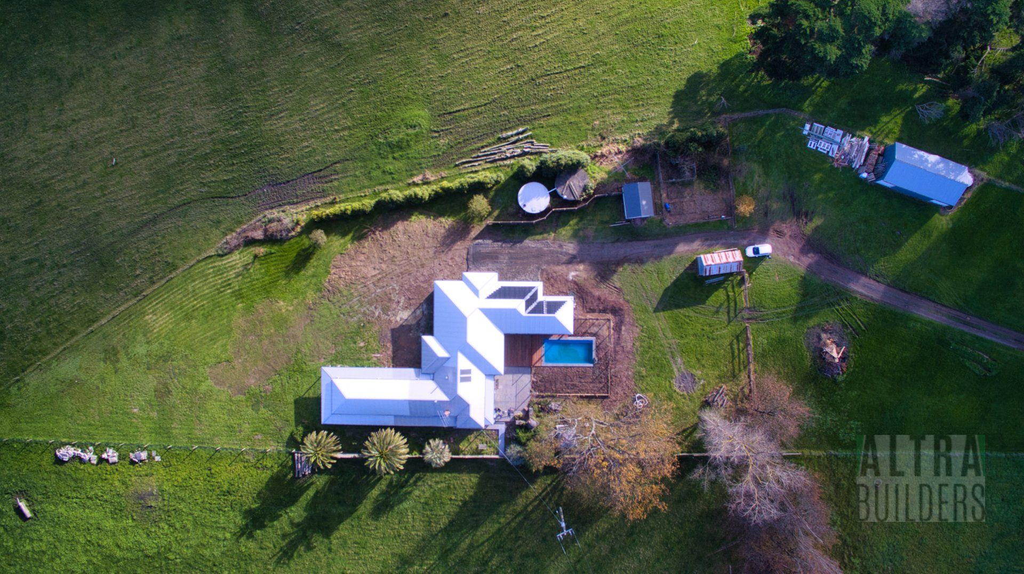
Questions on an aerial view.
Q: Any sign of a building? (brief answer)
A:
Yes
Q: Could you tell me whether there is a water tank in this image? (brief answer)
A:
Yes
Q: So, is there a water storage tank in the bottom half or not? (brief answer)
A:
No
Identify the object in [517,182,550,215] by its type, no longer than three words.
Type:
water tank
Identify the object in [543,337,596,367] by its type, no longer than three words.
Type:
swimming pool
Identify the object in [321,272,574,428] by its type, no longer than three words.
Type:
house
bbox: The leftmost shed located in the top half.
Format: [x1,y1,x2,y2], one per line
[621,182,653,220]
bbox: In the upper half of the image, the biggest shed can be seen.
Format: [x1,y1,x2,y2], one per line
[866,143,971,209]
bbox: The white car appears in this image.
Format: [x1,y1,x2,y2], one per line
[745,245,772,257]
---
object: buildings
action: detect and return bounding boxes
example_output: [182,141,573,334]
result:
[866,143,971,209]
[621,182,653,220]
[321,272,574,428]
[696,250,742,276]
